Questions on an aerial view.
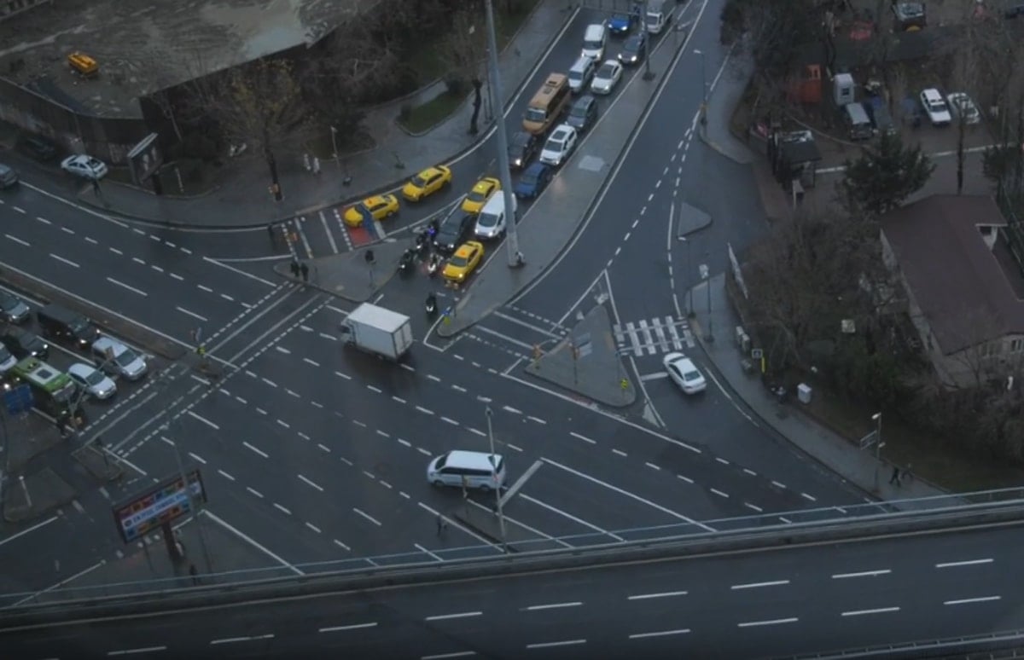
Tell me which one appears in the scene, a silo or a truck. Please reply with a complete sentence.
This aerial view contains a truck.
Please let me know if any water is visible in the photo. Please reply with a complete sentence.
No, no water is visible.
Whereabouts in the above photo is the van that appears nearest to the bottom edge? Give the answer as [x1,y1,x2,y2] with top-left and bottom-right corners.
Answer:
[426,449,508,492]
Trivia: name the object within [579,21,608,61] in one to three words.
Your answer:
van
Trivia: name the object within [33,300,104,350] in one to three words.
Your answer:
vehicle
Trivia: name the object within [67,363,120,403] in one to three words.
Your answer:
car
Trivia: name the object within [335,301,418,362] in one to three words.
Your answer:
truck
